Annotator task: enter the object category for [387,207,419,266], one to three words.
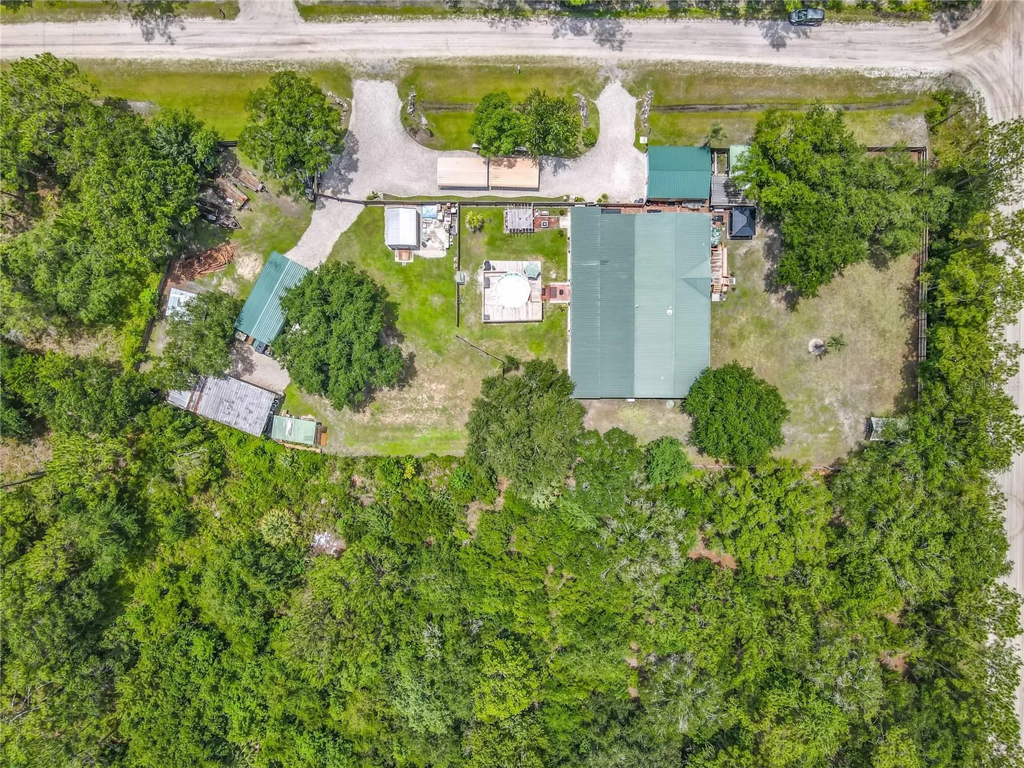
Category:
shed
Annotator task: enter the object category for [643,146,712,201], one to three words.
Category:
building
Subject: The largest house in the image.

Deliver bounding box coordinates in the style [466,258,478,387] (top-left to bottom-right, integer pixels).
[569,206,714,399]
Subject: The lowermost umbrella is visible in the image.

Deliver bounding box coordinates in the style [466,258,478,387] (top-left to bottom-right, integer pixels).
[525,264,540,277]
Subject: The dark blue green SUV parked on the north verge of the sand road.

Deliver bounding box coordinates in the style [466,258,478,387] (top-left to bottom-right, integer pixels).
[791,6,826,25]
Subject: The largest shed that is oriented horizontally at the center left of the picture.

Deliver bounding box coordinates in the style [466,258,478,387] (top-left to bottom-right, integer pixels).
[168,374,278,437]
